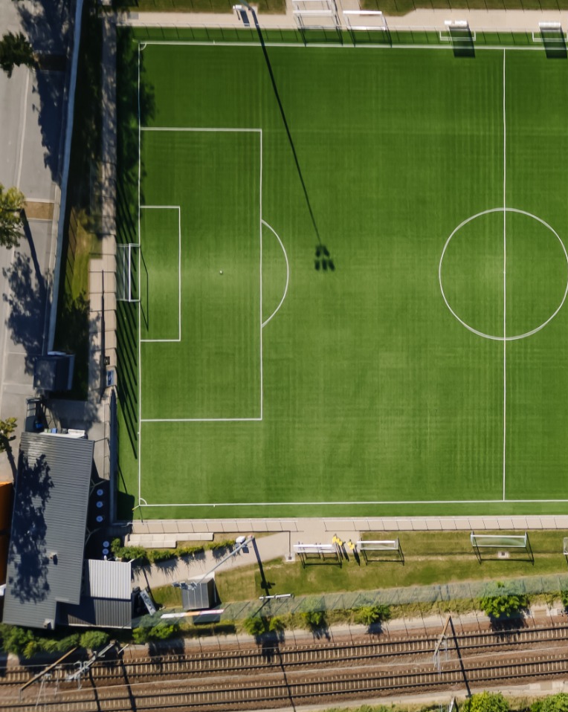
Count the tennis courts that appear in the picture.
0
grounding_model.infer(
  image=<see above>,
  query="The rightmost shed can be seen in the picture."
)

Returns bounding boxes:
[184,576,214,610]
